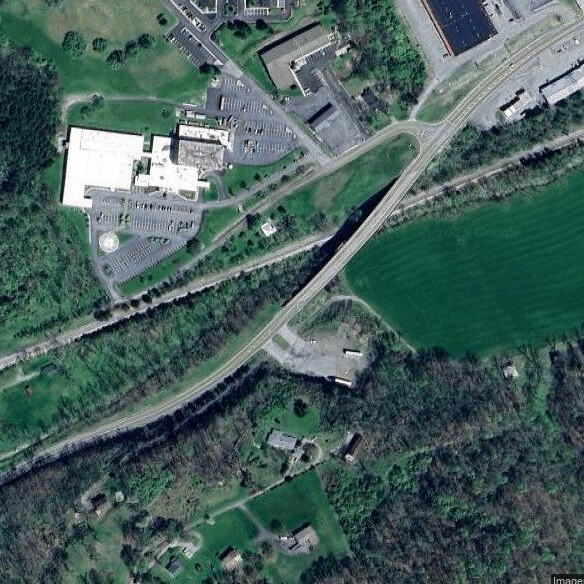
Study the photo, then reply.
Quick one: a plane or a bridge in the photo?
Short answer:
bridge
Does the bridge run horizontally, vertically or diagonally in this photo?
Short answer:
diagonally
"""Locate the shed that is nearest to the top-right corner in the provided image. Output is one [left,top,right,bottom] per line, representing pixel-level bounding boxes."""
[542,63,584,105]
